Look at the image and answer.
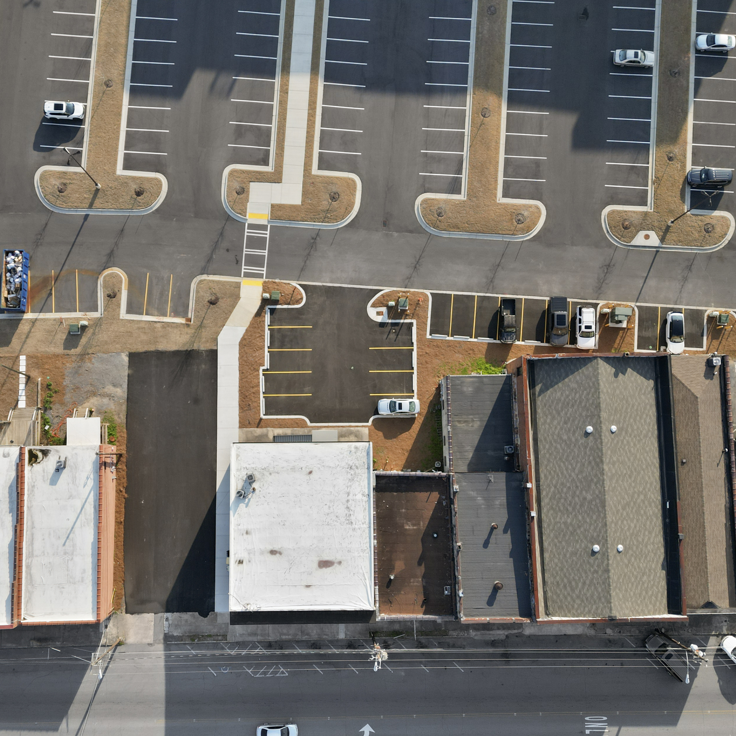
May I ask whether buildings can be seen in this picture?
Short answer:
Yes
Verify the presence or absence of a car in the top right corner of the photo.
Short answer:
Yes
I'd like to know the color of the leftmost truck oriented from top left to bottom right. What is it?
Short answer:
black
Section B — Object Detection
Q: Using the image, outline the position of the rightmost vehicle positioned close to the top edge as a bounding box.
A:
[692,33,736,54]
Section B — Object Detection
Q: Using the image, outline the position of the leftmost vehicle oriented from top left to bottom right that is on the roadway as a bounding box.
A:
[643,633,692,684]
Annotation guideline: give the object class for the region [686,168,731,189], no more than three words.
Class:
car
